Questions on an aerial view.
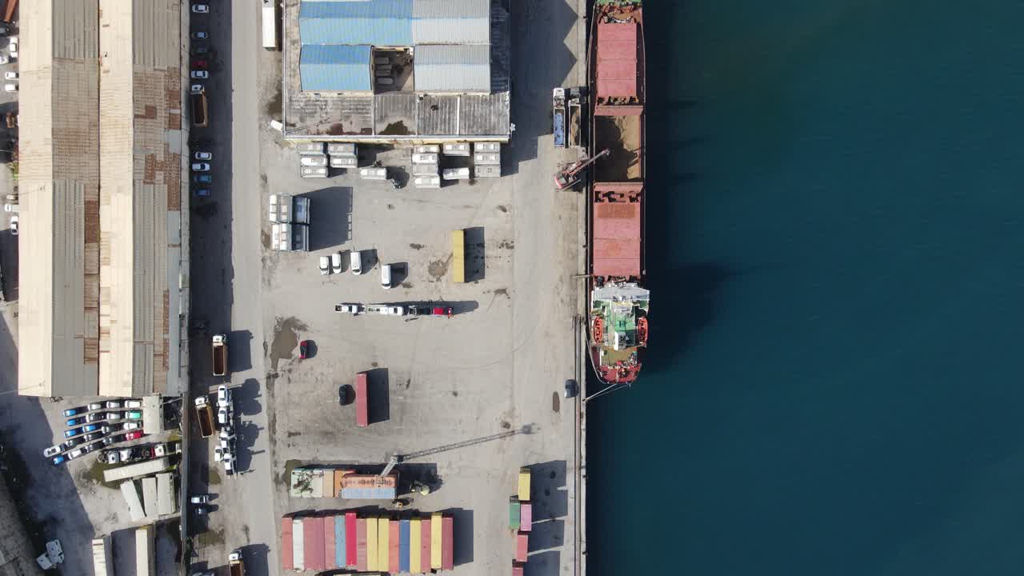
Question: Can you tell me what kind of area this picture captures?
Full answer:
The area seen from above is a port.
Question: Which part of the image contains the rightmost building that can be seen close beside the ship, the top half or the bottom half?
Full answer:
The top half of the photo is where the rightmost building that can be seen close beside the ship is.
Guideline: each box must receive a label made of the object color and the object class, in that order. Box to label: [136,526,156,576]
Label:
white trailer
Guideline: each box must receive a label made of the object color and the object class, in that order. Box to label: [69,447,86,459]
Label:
white vehicle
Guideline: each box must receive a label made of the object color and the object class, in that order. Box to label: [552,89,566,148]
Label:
white vehicle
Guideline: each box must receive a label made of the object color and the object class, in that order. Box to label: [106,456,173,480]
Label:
white trailer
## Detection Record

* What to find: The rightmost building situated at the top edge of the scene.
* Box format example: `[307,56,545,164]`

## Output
[284,0,513,141]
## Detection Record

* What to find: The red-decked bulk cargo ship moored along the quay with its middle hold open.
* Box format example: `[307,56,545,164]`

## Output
[587,0,649,384]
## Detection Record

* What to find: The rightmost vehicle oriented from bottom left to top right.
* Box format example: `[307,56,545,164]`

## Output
[551,146,613,191]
